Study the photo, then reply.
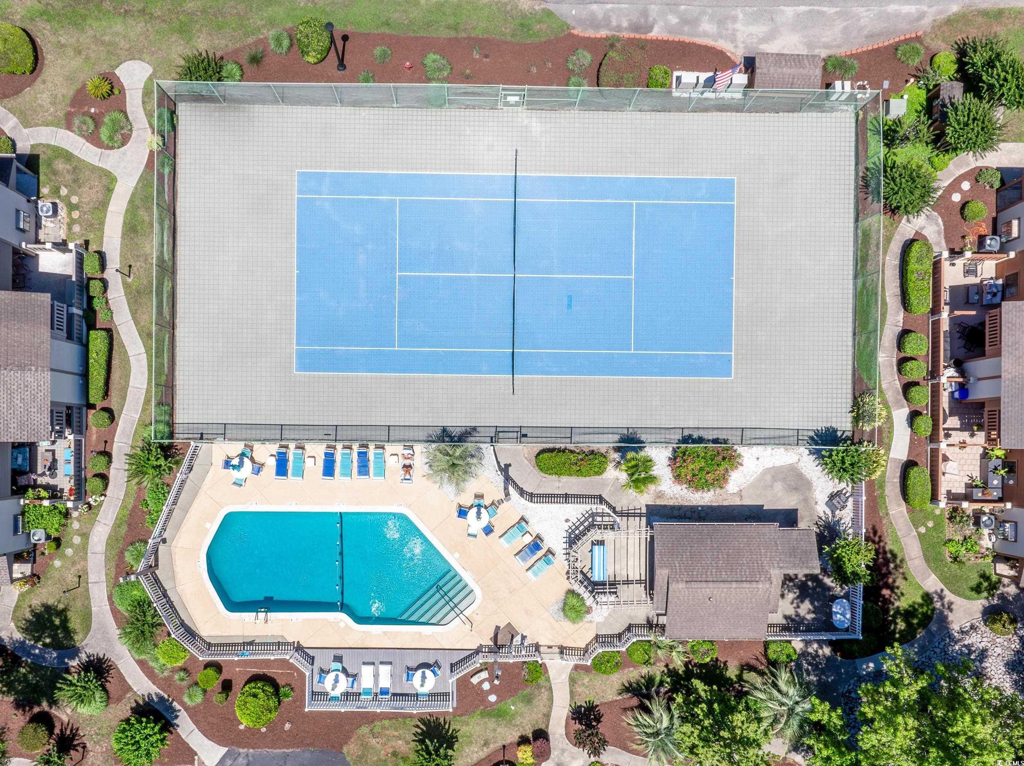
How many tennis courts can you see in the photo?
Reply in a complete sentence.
I count 1 tennis court.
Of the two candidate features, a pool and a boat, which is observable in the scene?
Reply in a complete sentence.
The image shows a pool.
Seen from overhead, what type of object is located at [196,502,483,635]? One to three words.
swimming pool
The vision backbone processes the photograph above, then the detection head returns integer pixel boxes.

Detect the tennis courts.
[175,102,855,446]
